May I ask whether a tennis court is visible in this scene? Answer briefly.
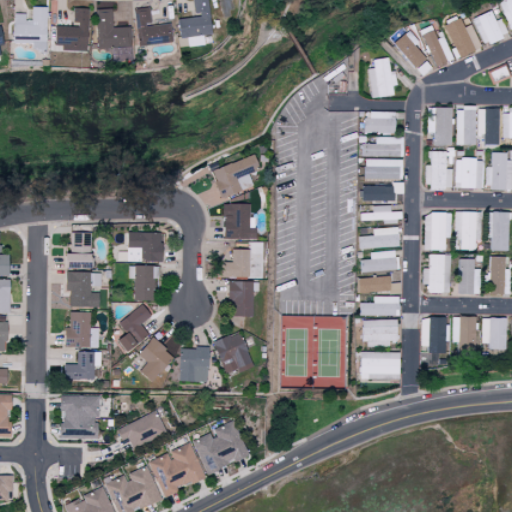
Yes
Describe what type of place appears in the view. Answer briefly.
residential area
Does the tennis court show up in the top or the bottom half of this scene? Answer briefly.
bottom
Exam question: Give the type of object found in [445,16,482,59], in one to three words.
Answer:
house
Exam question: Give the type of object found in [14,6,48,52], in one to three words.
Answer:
house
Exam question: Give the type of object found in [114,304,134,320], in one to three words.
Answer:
swimming pool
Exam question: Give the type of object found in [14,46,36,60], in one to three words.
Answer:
swimming pool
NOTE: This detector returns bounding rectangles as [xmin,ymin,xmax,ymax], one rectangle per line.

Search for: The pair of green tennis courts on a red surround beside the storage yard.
[282,316,347,388]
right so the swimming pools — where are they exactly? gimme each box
[114,304,134,320]
[152,44,175,56]
[96,312,108,334]
[14,46,36,60]
[92,52,112,62]
[97,238,106,260]
[257,210,266,234]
